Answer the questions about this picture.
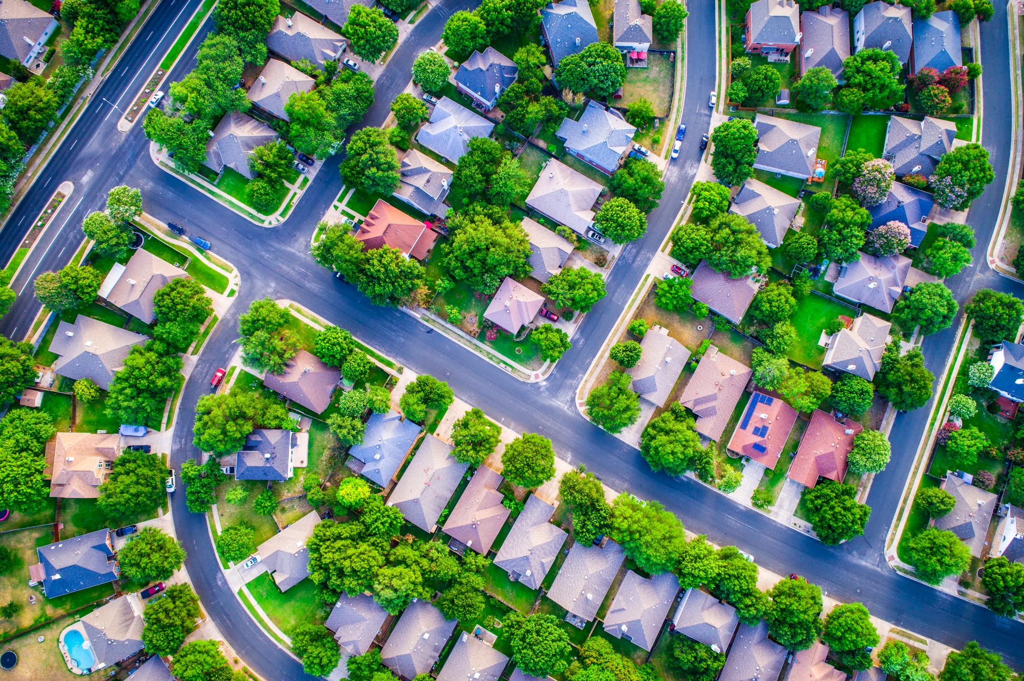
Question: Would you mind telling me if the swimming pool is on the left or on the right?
left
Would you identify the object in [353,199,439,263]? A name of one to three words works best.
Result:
house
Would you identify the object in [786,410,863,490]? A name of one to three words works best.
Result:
house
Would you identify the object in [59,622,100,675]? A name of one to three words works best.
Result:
swimming pool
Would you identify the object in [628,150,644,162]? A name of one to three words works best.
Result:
vehicle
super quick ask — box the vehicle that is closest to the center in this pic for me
[539,307,559,322]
